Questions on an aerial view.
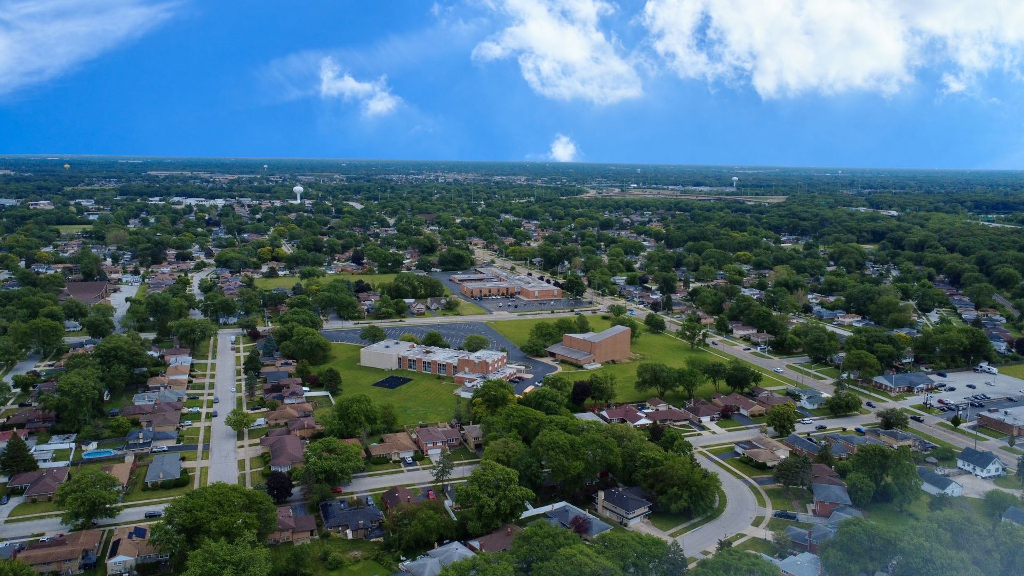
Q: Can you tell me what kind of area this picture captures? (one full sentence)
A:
This looks like a residential area.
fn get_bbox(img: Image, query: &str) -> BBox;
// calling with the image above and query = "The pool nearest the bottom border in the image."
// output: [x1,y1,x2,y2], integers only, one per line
[80,448,119,462]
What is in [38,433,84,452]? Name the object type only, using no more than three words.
shed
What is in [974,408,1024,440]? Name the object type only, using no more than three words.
building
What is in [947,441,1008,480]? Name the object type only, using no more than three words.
house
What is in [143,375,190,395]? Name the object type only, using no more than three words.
house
